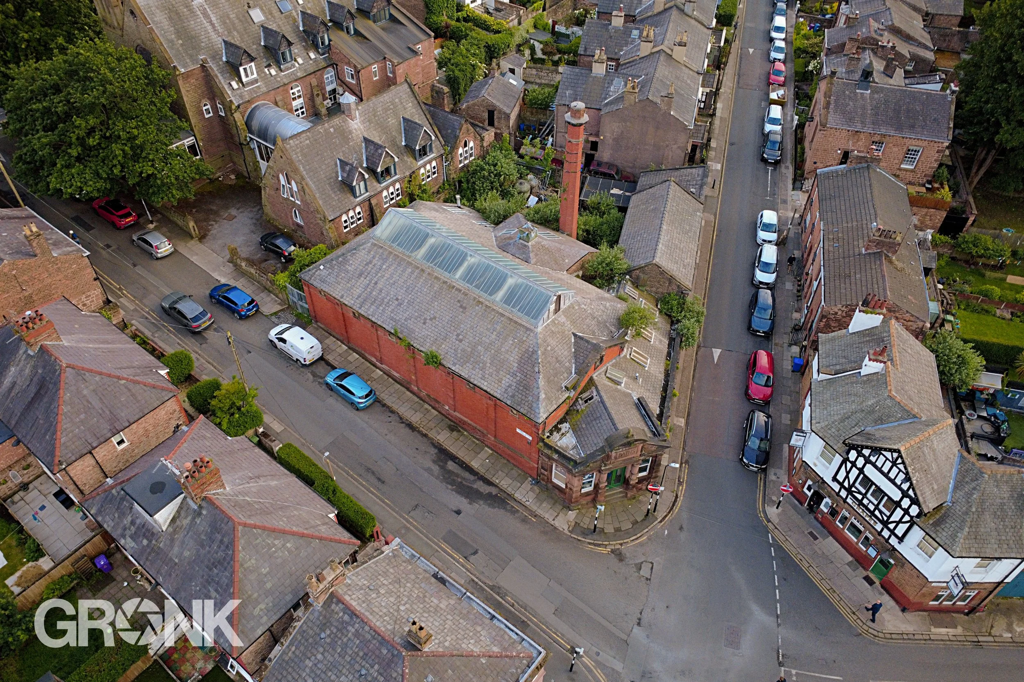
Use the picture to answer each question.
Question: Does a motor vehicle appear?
Yes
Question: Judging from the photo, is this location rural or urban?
urban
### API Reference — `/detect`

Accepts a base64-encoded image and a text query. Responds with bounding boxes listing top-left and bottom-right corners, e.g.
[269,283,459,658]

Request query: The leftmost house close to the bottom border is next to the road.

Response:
[76,414,361,682]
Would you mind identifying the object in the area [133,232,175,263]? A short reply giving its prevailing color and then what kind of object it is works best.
gray car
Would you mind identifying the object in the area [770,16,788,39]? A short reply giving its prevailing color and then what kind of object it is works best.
white car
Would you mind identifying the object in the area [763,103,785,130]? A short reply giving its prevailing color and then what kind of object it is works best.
white car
